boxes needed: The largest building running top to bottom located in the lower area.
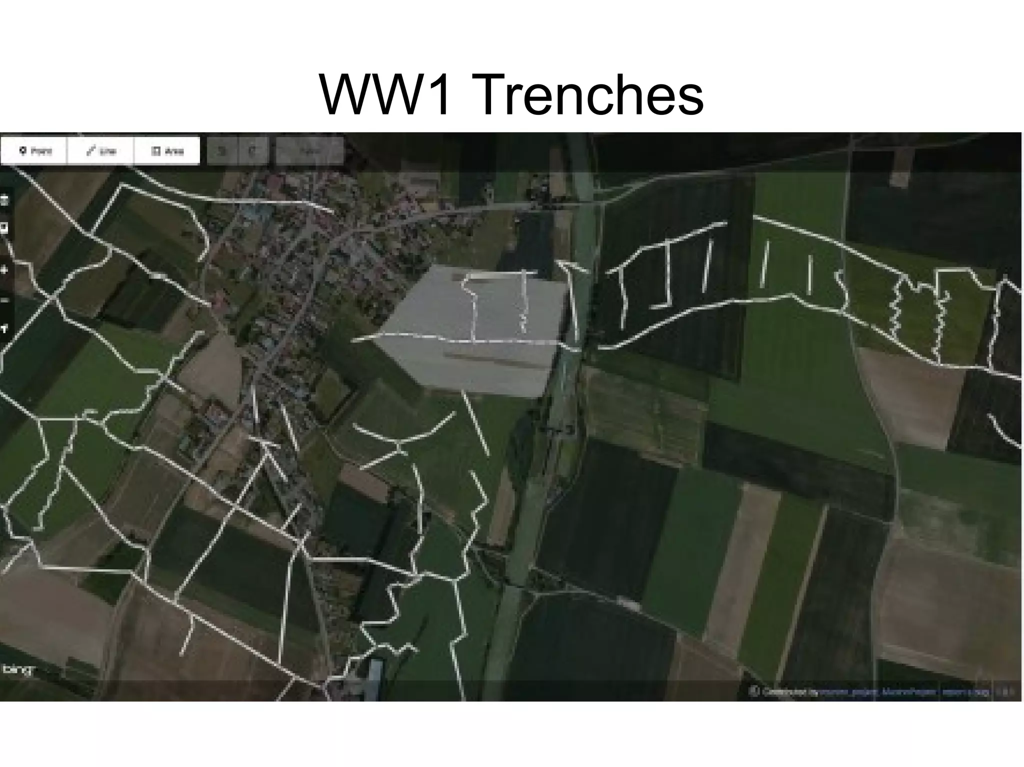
[366,656,380,696]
